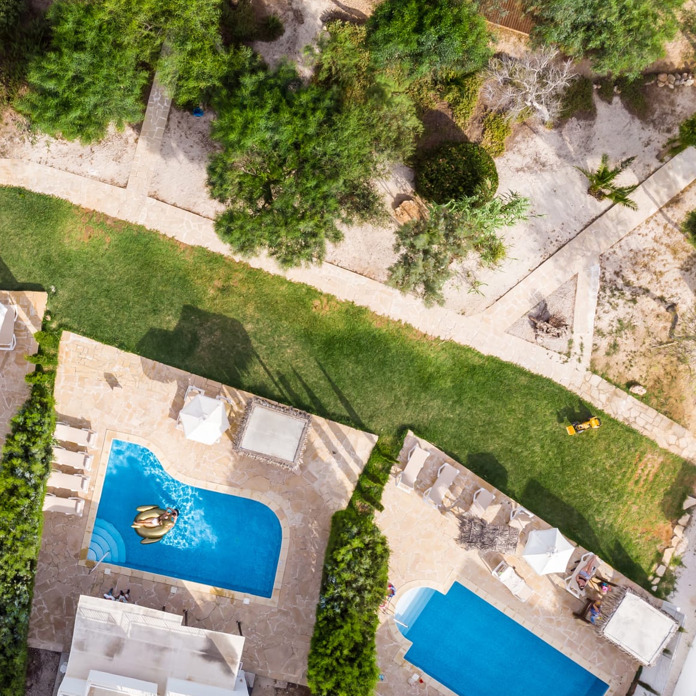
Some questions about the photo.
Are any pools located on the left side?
Yes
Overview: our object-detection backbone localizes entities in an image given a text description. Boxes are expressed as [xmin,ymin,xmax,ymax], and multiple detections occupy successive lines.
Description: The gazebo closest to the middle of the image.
[229,394,318,473]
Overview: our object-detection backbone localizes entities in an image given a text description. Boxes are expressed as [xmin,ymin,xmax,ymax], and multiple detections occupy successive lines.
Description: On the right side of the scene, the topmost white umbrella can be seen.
[515,525,568,575]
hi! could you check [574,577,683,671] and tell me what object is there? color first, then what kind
white gazebo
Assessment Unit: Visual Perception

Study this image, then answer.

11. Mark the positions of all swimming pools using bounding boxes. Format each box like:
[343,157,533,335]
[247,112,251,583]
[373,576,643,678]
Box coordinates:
[79,431,291,608]
[387,571,620,696]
